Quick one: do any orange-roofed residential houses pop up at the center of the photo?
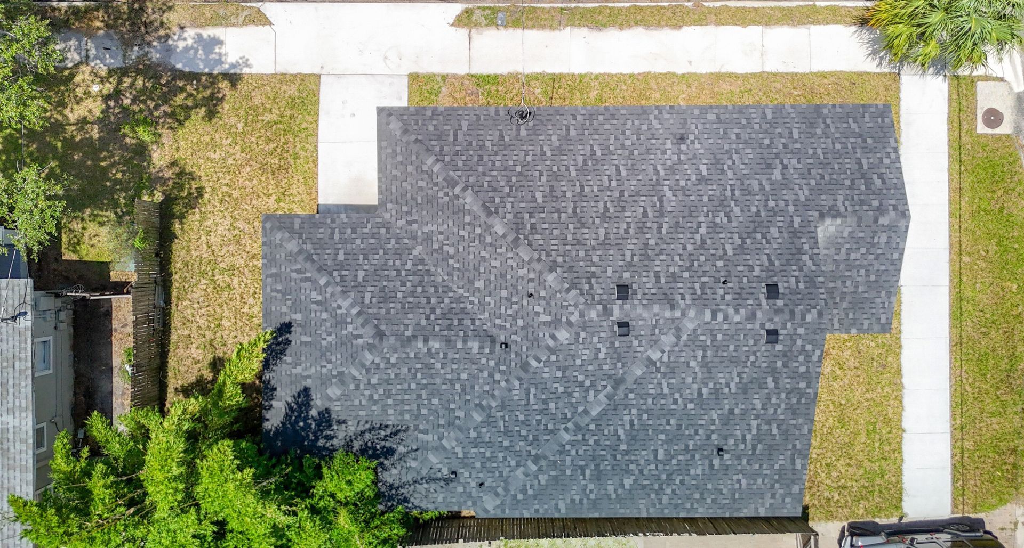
No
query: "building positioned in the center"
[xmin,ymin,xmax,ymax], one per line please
[262,106,909,518]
